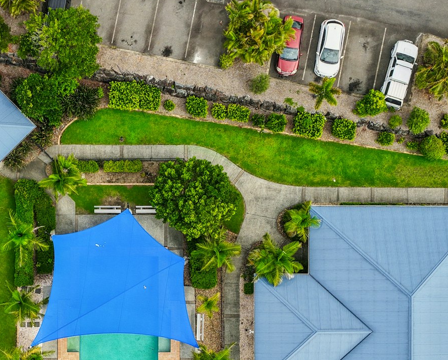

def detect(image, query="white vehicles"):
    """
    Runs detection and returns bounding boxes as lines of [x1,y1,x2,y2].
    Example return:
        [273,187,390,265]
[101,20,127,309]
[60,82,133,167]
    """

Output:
[379,36,419,115]
[313,17,345,81]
